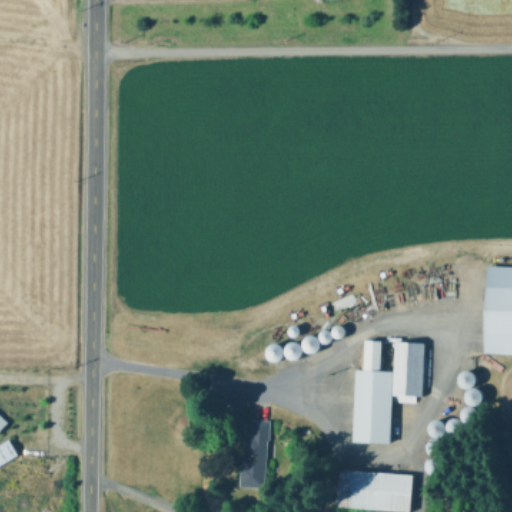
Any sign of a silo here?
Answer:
Yes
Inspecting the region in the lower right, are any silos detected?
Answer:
Yes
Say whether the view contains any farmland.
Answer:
Yes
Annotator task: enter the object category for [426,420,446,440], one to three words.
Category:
silo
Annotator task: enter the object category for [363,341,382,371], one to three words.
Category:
shed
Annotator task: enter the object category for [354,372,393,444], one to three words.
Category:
barn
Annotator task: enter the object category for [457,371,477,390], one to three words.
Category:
silo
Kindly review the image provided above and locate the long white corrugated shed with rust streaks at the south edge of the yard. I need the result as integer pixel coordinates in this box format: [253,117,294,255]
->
[338,472,413,512]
